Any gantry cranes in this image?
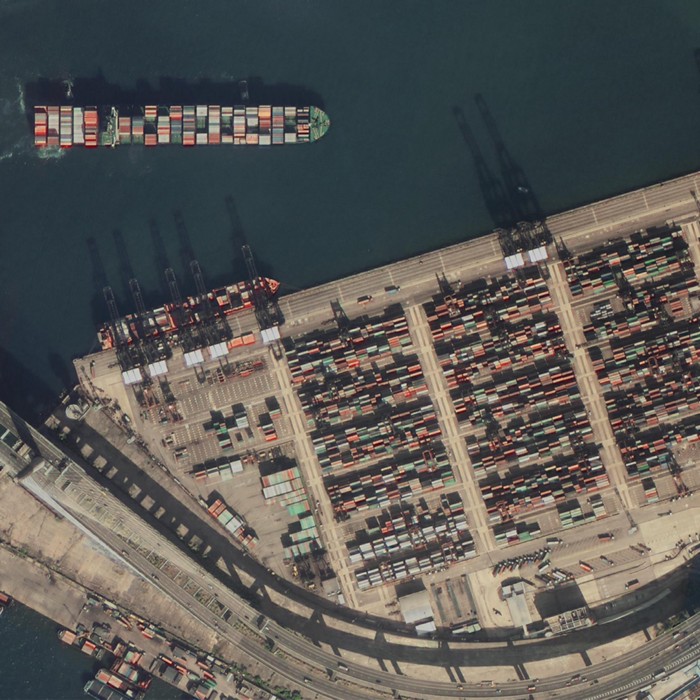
Yes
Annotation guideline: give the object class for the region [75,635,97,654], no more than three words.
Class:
ship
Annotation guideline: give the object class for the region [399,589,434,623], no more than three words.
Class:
building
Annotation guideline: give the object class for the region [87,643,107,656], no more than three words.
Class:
ship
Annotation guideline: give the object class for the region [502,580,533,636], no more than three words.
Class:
building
